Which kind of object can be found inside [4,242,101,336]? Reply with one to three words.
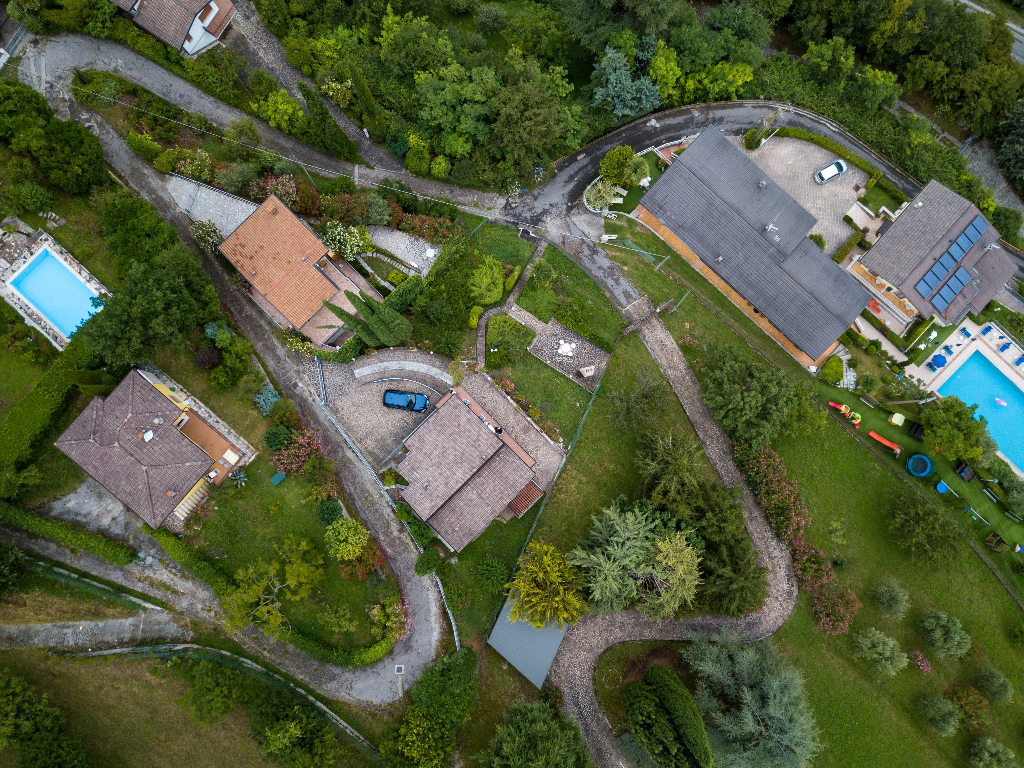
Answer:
swimming pool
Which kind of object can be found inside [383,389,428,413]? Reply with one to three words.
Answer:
car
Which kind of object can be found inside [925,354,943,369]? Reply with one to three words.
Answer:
umbrella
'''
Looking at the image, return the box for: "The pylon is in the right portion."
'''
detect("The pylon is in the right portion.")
[751,81,815,145]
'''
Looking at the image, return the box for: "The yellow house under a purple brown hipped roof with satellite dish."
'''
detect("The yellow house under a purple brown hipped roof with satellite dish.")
[53,367,248,530]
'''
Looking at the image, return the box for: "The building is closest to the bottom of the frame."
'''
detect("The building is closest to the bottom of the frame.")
[489,584,568,688]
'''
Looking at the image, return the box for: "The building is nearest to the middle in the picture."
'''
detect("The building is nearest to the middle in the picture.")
[396,381,544,553]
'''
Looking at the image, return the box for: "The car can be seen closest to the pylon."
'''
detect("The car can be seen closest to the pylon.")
[809,155,852,188]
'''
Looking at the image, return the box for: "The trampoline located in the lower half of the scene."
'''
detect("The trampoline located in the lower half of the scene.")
[905,454,938,477]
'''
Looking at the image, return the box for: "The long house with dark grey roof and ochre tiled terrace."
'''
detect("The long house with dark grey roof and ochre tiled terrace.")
[638,123,873,367]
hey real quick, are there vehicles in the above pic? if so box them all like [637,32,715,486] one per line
[383,389,428,413]
[809,155,852,188]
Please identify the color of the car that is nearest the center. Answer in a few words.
blue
